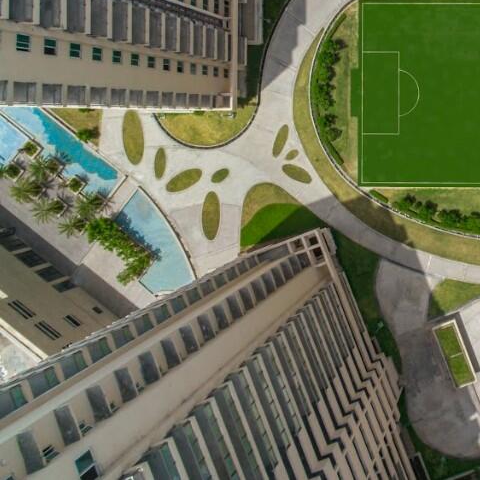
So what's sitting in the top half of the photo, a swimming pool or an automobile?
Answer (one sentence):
Visible in the top half of the photo is a swimming pool.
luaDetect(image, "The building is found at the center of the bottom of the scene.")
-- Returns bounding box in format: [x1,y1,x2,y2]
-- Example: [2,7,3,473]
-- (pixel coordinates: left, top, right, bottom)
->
[0,218,423,480]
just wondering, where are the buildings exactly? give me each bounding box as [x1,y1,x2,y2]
[0,218,423,480]
[0,0,266,111]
